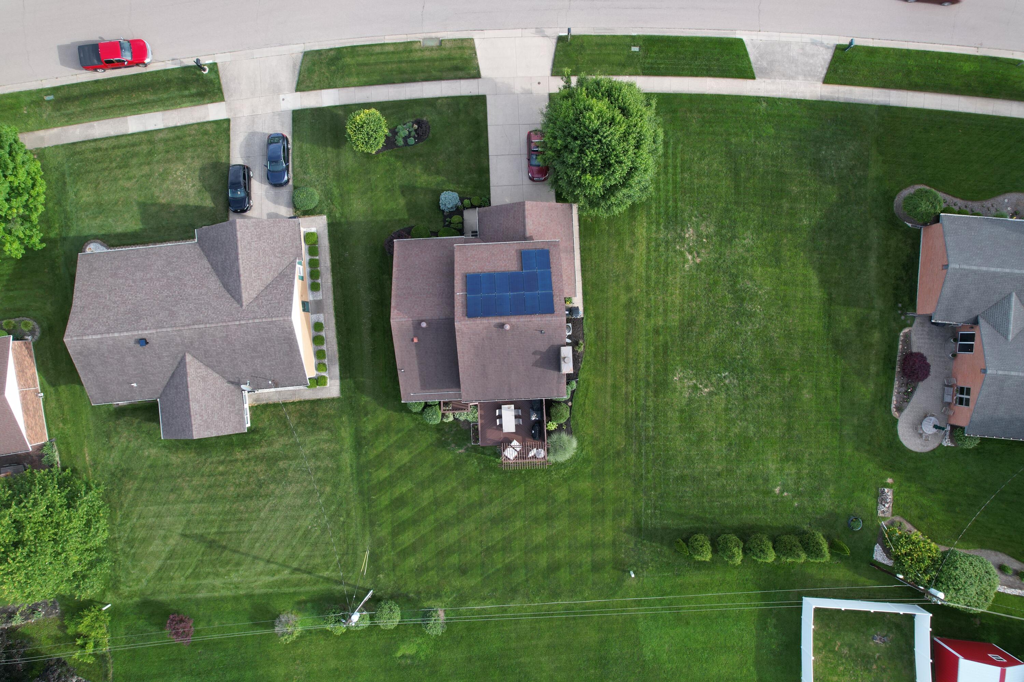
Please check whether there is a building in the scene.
Yes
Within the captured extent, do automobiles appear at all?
Yes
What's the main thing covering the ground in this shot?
grass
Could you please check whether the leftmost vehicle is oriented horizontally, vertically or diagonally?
horizontally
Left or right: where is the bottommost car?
left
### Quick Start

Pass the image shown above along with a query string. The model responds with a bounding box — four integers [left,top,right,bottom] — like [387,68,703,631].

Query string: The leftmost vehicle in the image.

[79,35,153,74]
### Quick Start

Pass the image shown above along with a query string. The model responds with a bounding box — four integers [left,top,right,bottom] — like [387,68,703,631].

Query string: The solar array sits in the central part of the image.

[456,249,554,318]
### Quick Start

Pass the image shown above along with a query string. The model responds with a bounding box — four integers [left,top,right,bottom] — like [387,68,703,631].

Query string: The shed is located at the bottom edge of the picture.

[931,638,1022,682]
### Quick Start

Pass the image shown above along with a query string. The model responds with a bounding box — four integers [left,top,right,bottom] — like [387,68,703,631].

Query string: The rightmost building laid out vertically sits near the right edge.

[916,211,1024,441]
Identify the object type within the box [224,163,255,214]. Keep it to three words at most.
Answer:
car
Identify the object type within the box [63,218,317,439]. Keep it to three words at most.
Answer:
house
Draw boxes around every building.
[0,334,48,458]
[916,211,1024,441]
[63,218,317,439]
[931,638,1022,682]
[390,201,578,404]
